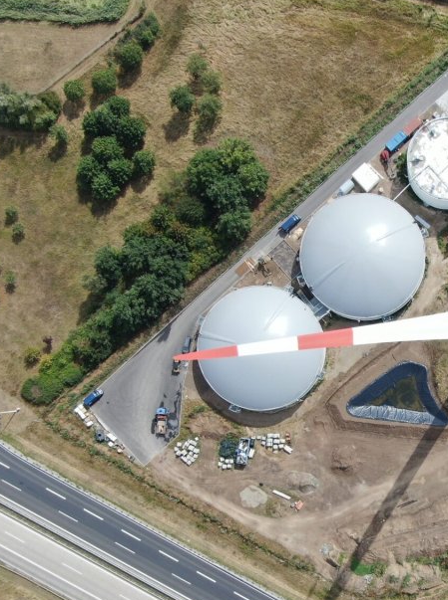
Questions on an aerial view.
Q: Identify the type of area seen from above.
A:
industrial area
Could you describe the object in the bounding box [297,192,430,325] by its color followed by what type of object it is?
white storage tank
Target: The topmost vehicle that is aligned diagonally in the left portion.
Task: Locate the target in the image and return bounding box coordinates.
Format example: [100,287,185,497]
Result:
[82,389,103,406]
